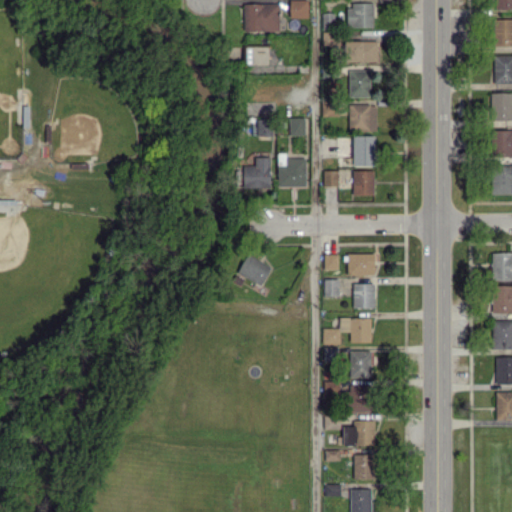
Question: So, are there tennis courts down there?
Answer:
No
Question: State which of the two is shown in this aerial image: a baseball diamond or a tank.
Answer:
baseball diamond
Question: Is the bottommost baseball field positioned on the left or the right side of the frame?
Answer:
left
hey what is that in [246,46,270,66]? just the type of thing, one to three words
building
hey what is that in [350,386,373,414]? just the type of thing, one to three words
house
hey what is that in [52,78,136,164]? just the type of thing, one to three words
baseball field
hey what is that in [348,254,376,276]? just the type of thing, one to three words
house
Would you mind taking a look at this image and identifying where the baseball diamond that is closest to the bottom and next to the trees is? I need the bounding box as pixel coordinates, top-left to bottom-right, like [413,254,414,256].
[0,211,118,366]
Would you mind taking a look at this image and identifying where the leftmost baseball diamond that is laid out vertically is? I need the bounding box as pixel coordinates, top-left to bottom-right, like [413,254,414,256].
[0,86,20,160]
